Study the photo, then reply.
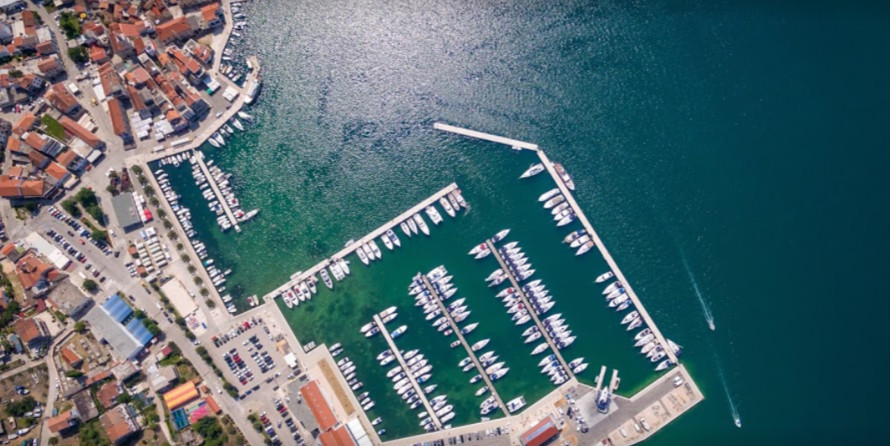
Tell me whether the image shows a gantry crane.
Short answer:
No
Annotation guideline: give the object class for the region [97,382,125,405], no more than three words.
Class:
house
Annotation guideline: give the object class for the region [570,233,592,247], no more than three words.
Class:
boat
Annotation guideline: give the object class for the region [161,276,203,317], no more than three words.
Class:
building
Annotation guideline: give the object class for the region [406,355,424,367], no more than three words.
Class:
boat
